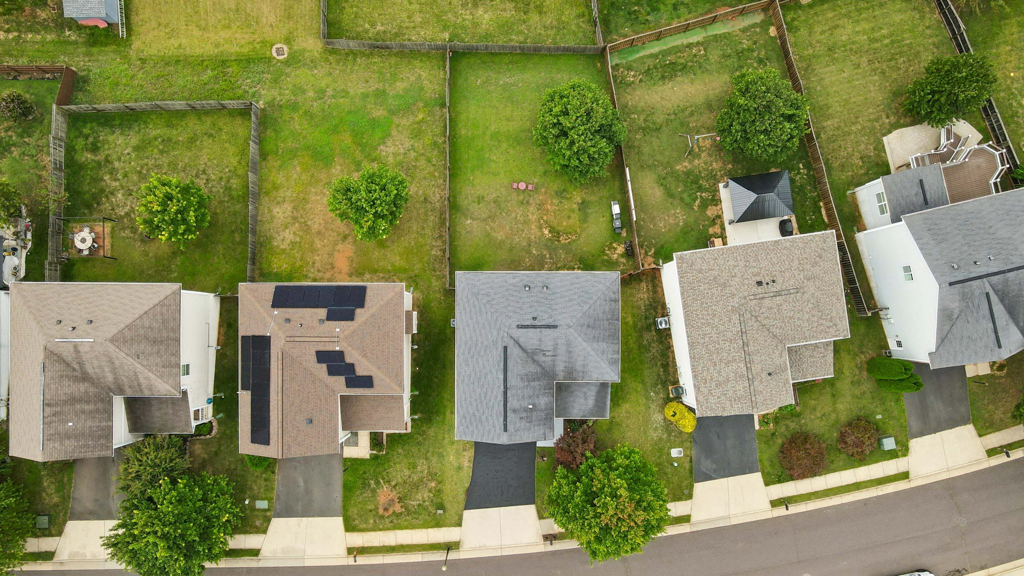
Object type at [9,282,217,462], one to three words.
house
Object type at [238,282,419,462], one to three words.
house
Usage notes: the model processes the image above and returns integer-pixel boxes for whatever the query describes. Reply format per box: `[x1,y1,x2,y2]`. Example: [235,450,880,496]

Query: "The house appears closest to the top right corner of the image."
[853,162,1024,371]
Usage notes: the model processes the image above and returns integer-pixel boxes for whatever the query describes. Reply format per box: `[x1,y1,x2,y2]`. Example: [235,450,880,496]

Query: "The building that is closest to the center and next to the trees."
[454,271,621,446]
